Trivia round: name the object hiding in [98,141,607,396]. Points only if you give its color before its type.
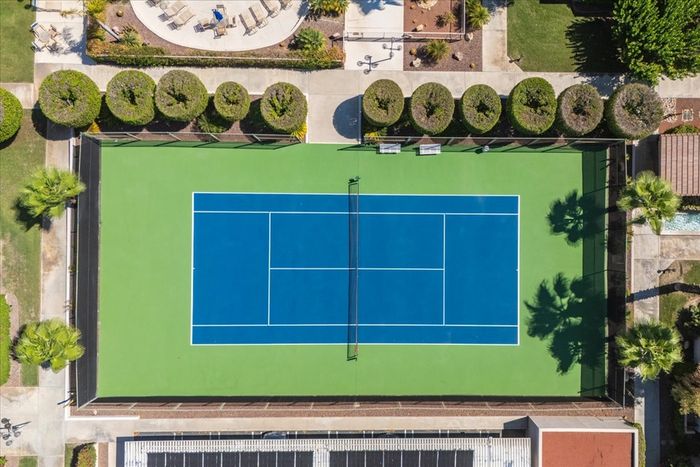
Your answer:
green tennis court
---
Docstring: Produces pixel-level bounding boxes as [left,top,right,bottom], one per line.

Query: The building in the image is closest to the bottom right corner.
[528,416,638,467]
